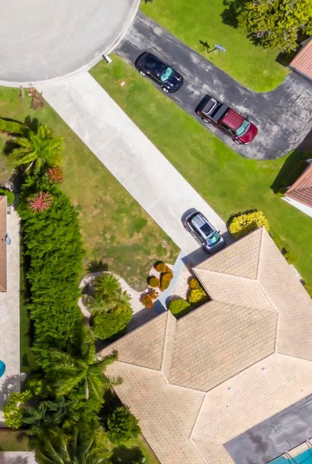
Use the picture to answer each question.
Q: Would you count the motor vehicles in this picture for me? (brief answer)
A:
3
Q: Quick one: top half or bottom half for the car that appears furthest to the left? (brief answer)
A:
top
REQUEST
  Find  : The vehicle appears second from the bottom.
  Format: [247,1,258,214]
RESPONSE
[196,96,254,142]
